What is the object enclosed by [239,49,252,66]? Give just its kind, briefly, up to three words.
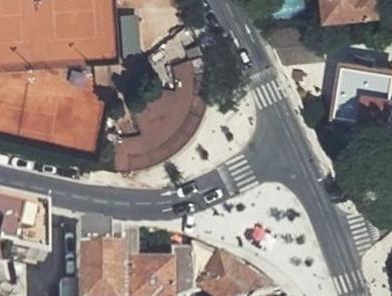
vehicle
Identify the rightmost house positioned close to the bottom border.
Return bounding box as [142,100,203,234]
[196,248,274,296]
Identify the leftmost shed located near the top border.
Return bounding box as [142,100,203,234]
[120,14,141,63]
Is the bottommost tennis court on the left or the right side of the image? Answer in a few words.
left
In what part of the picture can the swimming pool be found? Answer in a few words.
top right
